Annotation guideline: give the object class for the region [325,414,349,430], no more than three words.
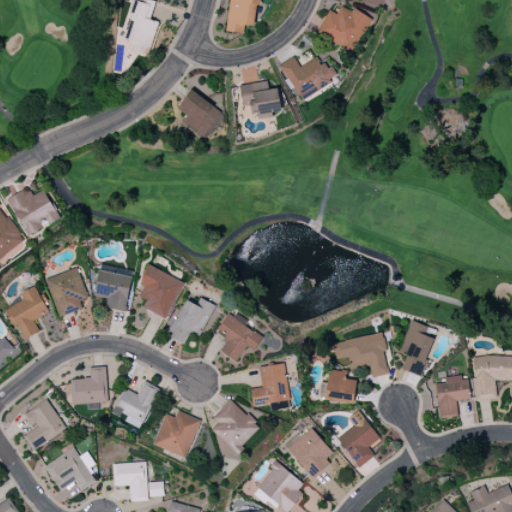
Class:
swimming pool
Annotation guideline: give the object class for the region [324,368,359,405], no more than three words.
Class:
house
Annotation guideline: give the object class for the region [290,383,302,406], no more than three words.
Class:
swimming pool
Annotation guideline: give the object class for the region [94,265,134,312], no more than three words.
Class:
house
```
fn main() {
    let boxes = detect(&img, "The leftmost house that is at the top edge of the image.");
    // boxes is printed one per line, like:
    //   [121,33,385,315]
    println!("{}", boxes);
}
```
[126,0,159,55]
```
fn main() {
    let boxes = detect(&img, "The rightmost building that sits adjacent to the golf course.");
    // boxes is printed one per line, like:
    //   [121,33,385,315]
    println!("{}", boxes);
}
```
[473,356,512,401]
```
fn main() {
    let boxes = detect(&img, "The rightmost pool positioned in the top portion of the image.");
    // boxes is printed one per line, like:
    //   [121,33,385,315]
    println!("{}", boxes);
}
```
[244,119,266,133]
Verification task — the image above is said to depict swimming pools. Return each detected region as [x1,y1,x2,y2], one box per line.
[52,250,75,268]
[474,340,495,350]
[290,383,302,406]
[244,119,266,133]
[325,414,349,430]
[114,44,125,71]
[7,282,19,298]
[254,460,268,482]
[432,336,452,358]
[96,240,126,262]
